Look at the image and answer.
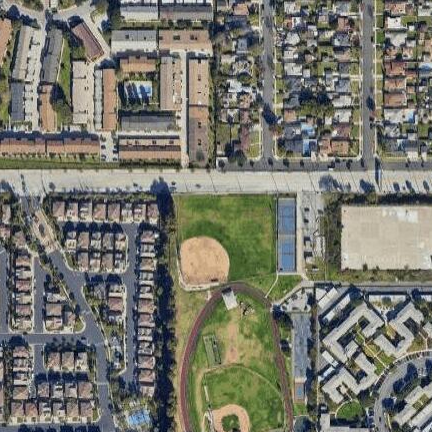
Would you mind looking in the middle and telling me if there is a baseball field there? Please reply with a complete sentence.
Yes, a baseball field can be seen in the middle.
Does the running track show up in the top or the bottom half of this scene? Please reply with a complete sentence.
You can find the running track in the bottom half.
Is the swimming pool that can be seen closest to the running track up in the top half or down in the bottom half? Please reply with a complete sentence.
Seen from above, the swimming pool that can be seen closest to the running track lies in the bottom half of the view.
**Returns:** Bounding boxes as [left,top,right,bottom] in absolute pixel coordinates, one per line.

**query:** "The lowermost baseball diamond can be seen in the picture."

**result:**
[198,364,284,432]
